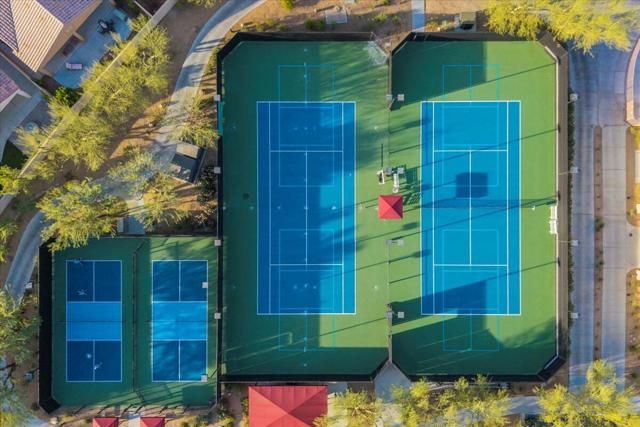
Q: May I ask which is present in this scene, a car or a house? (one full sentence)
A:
Visible in the photo is a house.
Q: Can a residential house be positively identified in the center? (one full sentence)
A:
No, looking in the center, there is no residential house.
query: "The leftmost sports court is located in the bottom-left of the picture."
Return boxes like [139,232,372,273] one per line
[52,237,134,406]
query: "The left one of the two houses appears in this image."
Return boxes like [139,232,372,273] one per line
[0,69,32,133]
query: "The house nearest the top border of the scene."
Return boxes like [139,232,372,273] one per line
[0,0,103,85]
